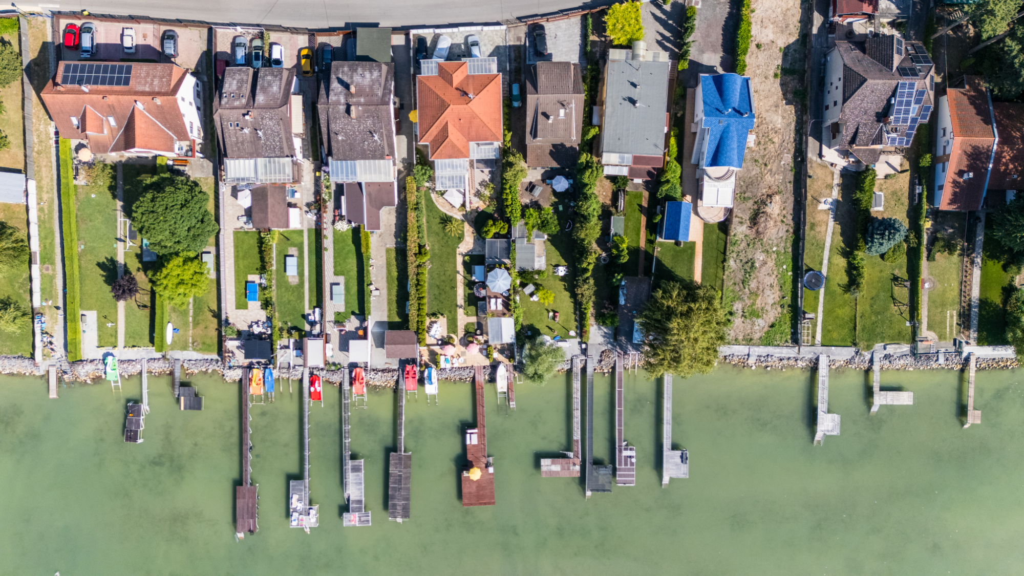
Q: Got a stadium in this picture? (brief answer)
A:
No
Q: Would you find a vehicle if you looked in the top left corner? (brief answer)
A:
Yes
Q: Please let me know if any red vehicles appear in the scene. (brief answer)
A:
Yes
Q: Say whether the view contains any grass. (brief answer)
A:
Yes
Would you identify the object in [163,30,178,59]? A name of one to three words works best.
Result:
car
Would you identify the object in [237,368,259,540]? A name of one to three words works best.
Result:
pier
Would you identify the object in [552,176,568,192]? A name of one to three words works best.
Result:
umbrella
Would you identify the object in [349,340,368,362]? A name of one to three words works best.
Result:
shed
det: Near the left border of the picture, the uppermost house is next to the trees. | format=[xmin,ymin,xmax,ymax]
[40,61,202,159]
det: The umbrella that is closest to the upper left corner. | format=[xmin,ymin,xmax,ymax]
[78,148,95,162]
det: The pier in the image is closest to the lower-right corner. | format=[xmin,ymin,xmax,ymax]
[961,353,981,429]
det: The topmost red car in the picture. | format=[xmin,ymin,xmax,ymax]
[64,24,80,51]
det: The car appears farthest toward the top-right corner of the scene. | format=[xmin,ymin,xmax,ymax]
[532,25,547,57]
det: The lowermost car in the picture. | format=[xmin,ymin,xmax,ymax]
[509,83,522,107]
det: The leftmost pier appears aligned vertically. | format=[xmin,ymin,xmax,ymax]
[48,365,60,398]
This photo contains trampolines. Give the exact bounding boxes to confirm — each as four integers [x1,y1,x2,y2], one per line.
[808,270,824,290]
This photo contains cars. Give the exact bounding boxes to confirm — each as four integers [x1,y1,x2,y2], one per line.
[299,48,314,77]
[320,43,334,63]
[469,35,482,58]
[271,43,284,68]
[122,28,137,54]
[250,39,265,68]
[415,36,429,65]
[432,34,451,61]
[64,24,80,51]
[163,30,178,59]
[532,25,547,57]
[344,36,356,62]
[235,36,249,66]
[509,83,522,107]
[80,24,97,55]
